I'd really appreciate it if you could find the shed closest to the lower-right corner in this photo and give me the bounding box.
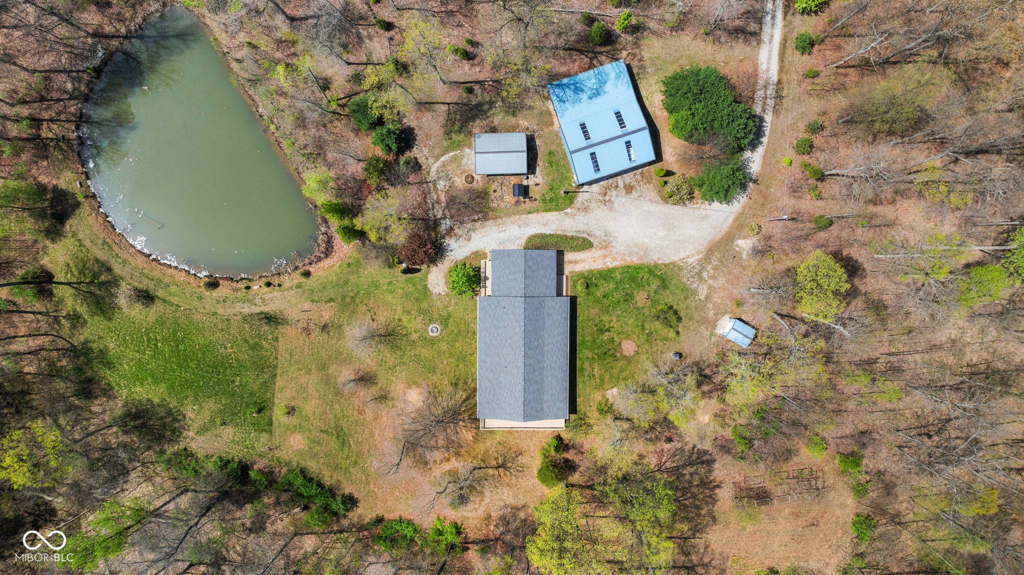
[720,319,755,347]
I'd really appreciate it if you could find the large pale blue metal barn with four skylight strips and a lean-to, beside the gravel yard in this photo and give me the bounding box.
[546,60,656,185]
